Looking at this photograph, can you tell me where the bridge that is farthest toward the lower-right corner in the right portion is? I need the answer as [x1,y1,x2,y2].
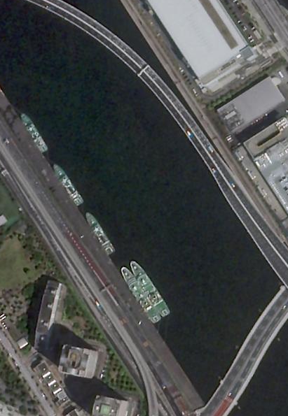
[198,282,288,416]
